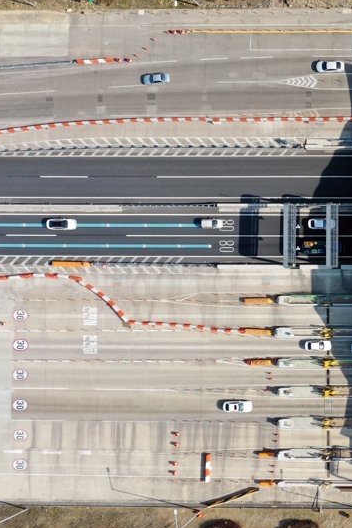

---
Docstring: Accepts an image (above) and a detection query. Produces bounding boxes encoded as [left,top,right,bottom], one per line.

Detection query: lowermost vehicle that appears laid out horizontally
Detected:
[221,400,253,414]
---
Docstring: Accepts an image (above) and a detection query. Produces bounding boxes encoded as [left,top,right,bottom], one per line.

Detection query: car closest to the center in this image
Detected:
[199,218,225,231]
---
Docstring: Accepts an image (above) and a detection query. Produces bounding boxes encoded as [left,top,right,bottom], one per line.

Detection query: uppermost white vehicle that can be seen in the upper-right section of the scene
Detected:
[316,58,345,73]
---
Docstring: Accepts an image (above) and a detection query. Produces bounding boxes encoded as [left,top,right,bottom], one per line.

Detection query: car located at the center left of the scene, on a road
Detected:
[46,217,79,231]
